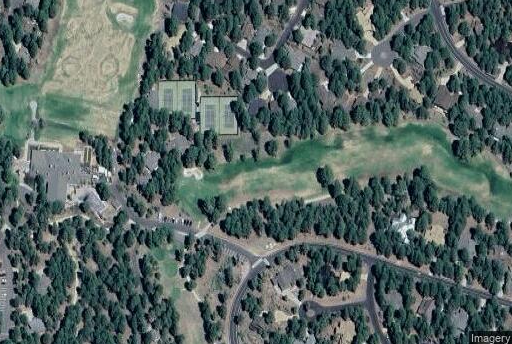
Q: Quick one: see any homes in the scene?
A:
Yes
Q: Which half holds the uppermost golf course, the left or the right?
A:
right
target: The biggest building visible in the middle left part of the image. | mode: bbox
[31,150,93,203]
